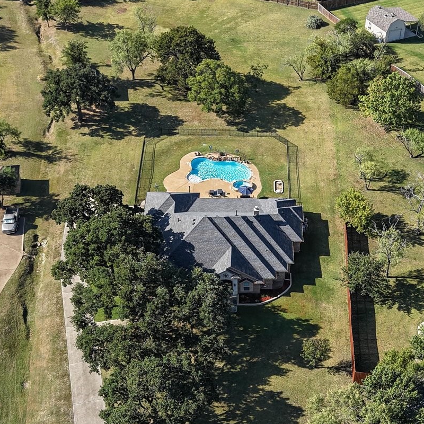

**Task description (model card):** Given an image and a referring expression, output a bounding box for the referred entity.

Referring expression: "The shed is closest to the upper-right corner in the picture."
[364,1,422,42]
